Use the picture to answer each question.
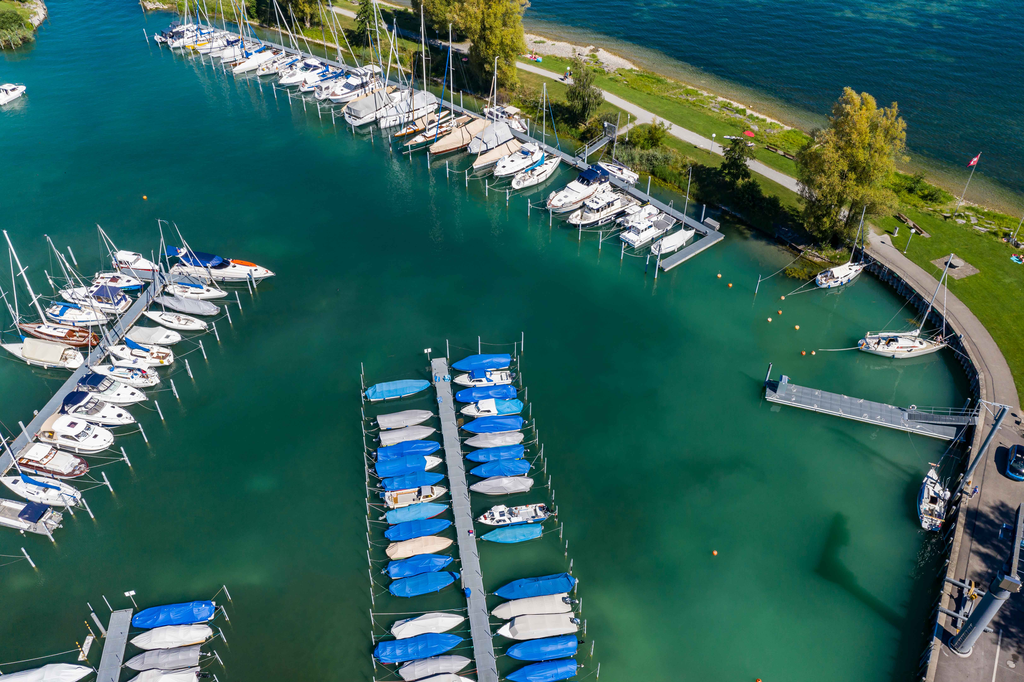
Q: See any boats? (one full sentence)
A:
Yes, the image includes a boat.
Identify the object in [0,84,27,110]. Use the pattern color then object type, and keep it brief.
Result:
white boat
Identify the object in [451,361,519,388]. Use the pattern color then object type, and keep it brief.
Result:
white boat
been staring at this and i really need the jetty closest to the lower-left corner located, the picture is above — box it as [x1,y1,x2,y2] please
[97,608,135,682]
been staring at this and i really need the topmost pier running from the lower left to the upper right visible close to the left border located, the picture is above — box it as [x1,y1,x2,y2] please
[0,282,163,484]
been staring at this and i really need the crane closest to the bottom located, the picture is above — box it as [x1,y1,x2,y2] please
[948,489,1024,657]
